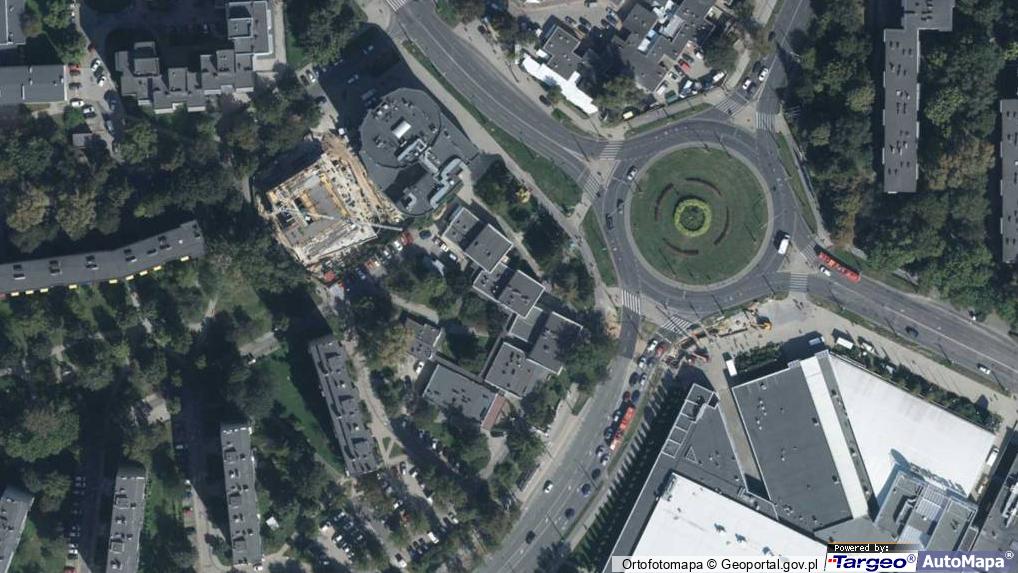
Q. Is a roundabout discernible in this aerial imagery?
Yes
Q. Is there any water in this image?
No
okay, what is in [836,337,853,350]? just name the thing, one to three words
vehicle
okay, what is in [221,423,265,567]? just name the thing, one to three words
building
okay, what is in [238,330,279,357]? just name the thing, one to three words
shed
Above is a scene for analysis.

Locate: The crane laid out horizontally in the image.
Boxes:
[277,207,402,238]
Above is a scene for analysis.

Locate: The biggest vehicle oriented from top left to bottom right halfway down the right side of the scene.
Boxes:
[818,252,861,283]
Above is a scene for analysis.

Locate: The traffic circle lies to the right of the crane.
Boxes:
[602,118,796,312]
